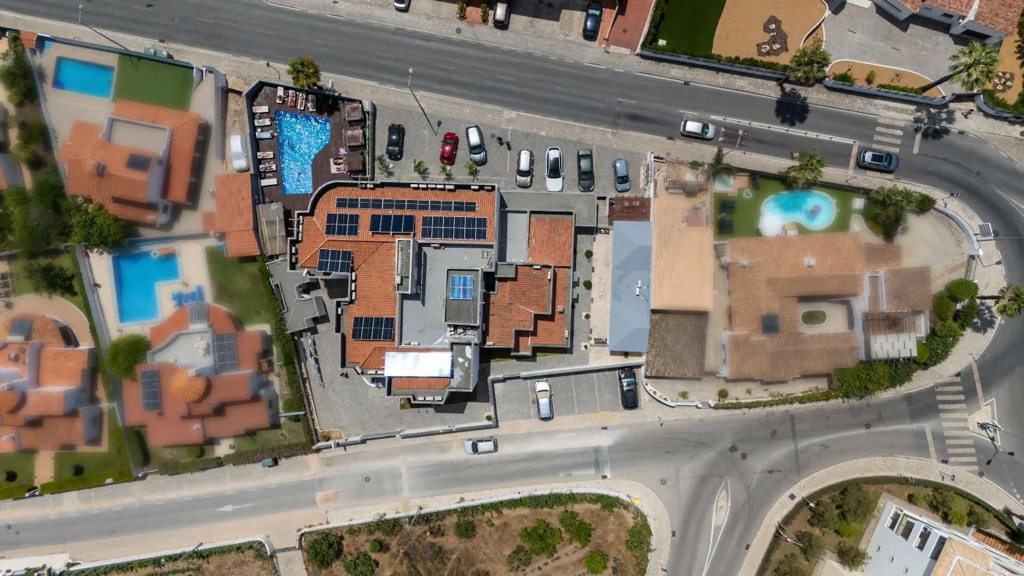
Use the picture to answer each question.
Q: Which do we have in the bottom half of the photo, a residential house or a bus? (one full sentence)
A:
It is a residential house that can be seen in the bottom half of the photo.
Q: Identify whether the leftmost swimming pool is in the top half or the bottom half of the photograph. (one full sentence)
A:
You can find the leftmost swimming pool in the top half.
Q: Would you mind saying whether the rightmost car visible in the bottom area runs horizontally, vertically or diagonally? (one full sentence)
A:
From this overhead view, the rightmost car visible in the bottom area appears to run vertically.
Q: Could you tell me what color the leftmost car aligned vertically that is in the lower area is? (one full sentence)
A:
The leftmost car aligned vertically that is in the lower area is white.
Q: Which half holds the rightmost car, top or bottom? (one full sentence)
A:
You can find the rightmost car in the top half.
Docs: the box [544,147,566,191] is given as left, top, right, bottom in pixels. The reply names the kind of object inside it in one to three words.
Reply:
car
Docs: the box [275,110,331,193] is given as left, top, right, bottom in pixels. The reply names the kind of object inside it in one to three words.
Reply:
swimming pool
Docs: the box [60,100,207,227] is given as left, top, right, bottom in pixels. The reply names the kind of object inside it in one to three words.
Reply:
house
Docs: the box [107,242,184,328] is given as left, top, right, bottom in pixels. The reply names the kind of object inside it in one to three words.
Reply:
swimming pool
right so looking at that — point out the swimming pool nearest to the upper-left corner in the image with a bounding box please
[49,54,116,99]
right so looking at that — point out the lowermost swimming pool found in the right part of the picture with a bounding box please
[759,187,841,233]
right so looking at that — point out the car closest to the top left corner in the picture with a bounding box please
[227,132,250,172]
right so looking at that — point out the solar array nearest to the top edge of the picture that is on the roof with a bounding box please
[127,154,152,171]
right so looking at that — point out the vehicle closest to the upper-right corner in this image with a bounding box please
[856,150,899,171]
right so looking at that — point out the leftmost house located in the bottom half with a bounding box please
[0,312,117,452]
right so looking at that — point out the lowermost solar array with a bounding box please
[141,370,161,411]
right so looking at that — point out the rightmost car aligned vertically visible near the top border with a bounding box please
[582,0,603,43]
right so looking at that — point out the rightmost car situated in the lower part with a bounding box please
[618,368,639,410]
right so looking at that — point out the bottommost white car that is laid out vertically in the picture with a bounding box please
[533,379,553,421]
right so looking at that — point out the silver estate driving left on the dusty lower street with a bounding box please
[464,436,498,456]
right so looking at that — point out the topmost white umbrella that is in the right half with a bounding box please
[757,212,782,237]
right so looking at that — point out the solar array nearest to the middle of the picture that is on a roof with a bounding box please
[450,275,474,300]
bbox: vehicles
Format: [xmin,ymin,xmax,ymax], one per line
[492,0,513,33]
[618,368,639,410]
[440,132,459,166]
[466,125,487,165]
[576,149,596,191]
[679,120,715,140]
[856,150,899,171]
[515,149,536,188]
[612,158,633,192]
[544,147,566,191]
[464,436,498,456]
[384,123,405,161]
[227,132,250,172]
[582,0,603,43]
[533,379,553,421]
